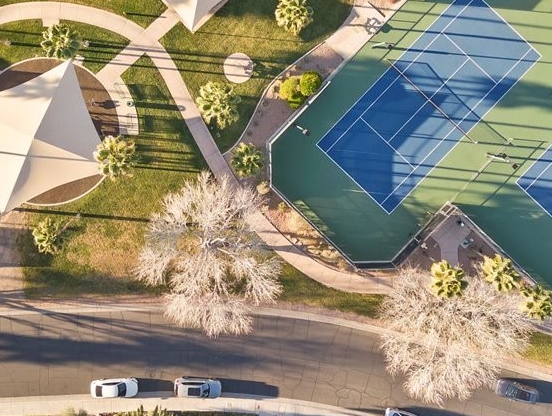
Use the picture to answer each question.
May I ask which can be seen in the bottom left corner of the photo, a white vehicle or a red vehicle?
white vehicle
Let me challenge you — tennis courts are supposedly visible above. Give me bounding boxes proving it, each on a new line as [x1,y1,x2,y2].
[272,0,552,262]
[452,98,552,295]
